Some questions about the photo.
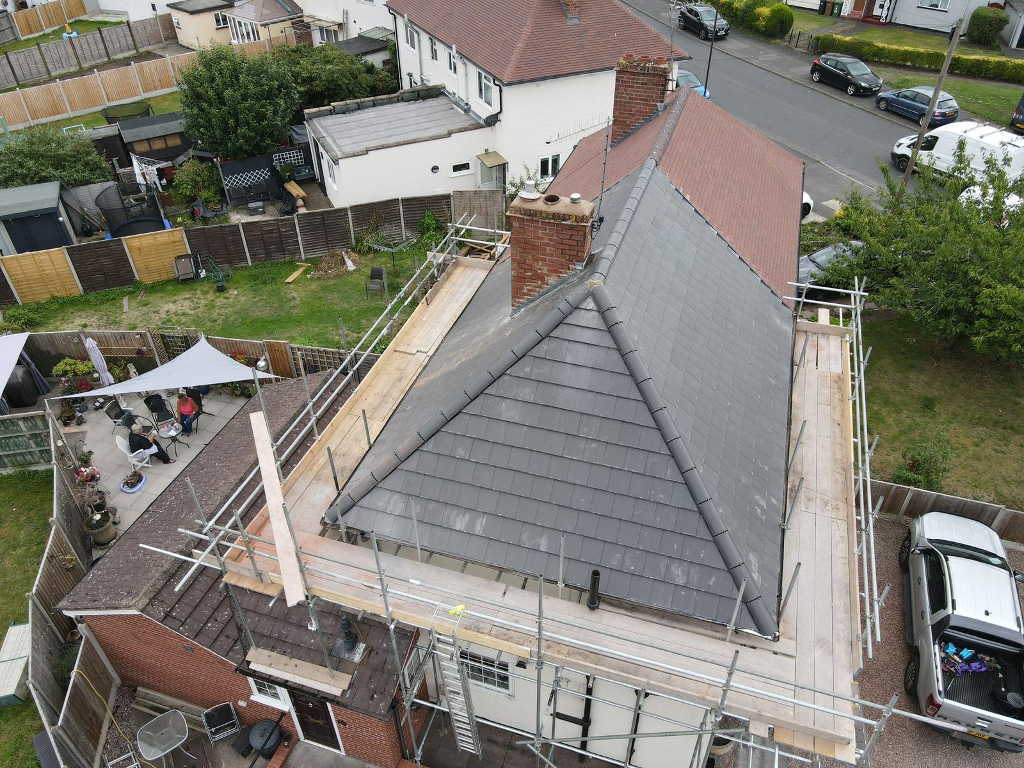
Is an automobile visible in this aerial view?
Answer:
Yes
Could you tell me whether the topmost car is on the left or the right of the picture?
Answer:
right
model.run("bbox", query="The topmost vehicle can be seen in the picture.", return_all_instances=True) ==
[680,4,726,39]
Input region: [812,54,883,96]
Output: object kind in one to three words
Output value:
car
